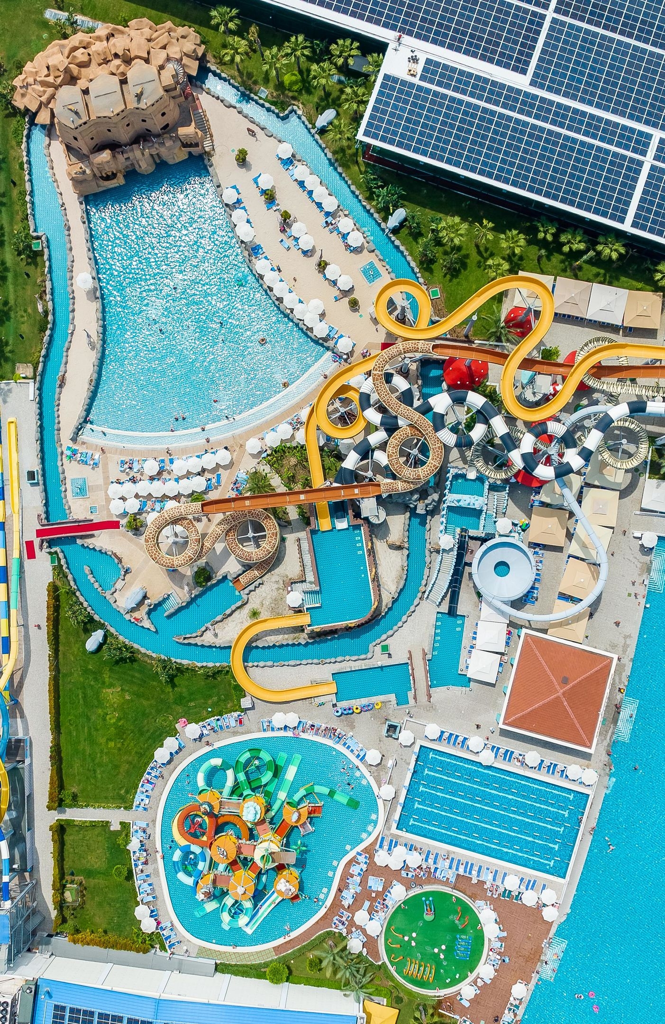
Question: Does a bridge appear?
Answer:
Yes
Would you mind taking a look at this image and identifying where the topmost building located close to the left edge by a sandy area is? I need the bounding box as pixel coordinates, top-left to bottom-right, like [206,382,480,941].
[9,18,209,196]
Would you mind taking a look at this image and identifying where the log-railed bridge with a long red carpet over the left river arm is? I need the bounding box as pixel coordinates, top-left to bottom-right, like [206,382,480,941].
[36,515,120,550]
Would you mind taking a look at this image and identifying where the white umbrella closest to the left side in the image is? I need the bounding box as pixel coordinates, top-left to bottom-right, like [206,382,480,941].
[78,274,93,290]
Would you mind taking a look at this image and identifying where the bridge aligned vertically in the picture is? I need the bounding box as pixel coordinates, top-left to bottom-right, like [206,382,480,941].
[407,649,433,703]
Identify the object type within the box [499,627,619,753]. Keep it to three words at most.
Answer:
building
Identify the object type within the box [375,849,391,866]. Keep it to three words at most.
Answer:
umbrella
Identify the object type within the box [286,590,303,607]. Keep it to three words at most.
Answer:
umbrella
